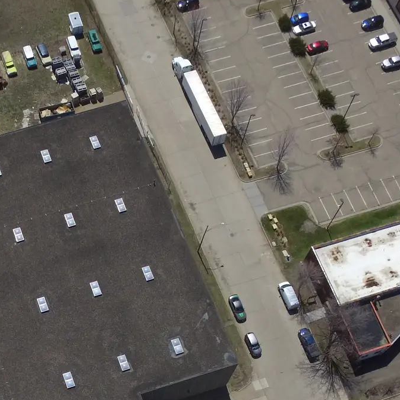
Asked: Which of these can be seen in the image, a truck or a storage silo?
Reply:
truck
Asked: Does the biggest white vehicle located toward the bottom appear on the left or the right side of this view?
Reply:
right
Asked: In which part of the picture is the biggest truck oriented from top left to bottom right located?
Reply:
top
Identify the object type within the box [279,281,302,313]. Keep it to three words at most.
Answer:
vehicle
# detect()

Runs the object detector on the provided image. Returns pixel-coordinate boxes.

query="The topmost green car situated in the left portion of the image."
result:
[87,29,103,53]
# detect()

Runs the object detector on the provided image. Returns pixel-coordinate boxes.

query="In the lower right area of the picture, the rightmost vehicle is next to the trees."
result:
[299,329,321,362]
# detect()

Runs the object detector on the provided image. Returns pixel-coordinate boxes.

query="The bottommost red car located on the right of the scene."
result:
[305,40,330,55]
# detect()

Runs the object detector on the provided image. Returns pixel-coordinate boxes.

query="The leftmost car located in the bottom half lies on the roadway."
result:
[228,295,245,322]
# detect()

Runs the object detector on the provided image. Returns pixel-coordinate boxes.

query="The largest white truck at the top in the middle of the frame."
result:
[169,55,233,143]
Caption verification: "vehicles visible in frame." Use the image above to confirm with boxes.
[292,11,311,26]
[169,55,233,143]
[37,42,52,67]
[22,46,37,70]
[299,329,321,362]
[305,40,330,55]
[1,52,17,77]
[279,281,302,313]
[176,0,202,12]
[87,29,103,53]
[228,295,245,322]
[379,53,400,71]
[359,16,386,30]
[245,334,261,359]
[367,30,400,49]
[347,0,373,12]
[0,68,6,86]
[67,33,81,59]
[291,21,318,37]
